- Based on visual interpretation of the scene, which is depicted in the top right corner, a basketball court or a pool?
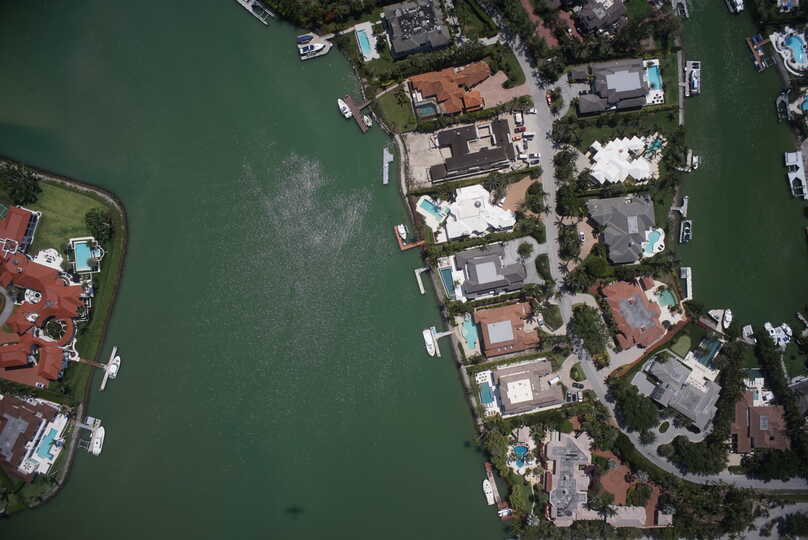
pool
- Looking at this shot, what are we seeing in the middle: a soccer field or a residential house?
residential house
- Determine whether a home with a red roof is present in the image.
Yes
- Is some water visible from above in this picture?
Yes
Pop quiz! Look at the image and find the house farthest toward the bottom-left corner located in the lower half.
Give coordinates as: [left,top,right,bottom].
[0,394,59,478]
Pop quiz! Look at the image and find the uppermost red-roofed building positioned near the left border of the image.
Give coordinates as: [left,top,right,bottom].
[0,207,88,381]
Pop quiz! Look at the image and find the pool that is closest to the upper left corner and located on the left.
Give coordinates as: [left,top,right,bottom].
[67,237,103,273]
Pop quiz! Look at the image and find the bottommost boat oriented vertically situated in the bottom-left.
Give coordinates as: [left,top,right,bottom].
[89,427,103,458]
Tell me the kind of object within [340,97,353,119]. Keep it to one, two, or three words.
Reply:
boat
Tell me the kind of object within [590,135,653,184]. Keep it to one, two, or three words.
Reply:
house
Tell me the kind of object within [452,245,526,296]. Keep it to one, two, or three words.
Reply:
house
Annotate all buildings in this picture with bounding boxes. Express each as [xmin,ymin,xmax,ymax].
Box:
[0,207,88,381]
[600,280,664,350]
[546,431,646,527]
[590,135,653,184]
[494,359,564,415]
[384,0,451,54]
[572,58,649,115]
[452,245,526,296]
[728,392,790,451]
[442,184,514,241]
[649,348,727,429]
[585,196,656,264]
[472,301,539,357]
[656,512,672,525]
[0,394,59,478]
[573,0,624,35]
[428,120,514,180]
[408,60,490,114]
